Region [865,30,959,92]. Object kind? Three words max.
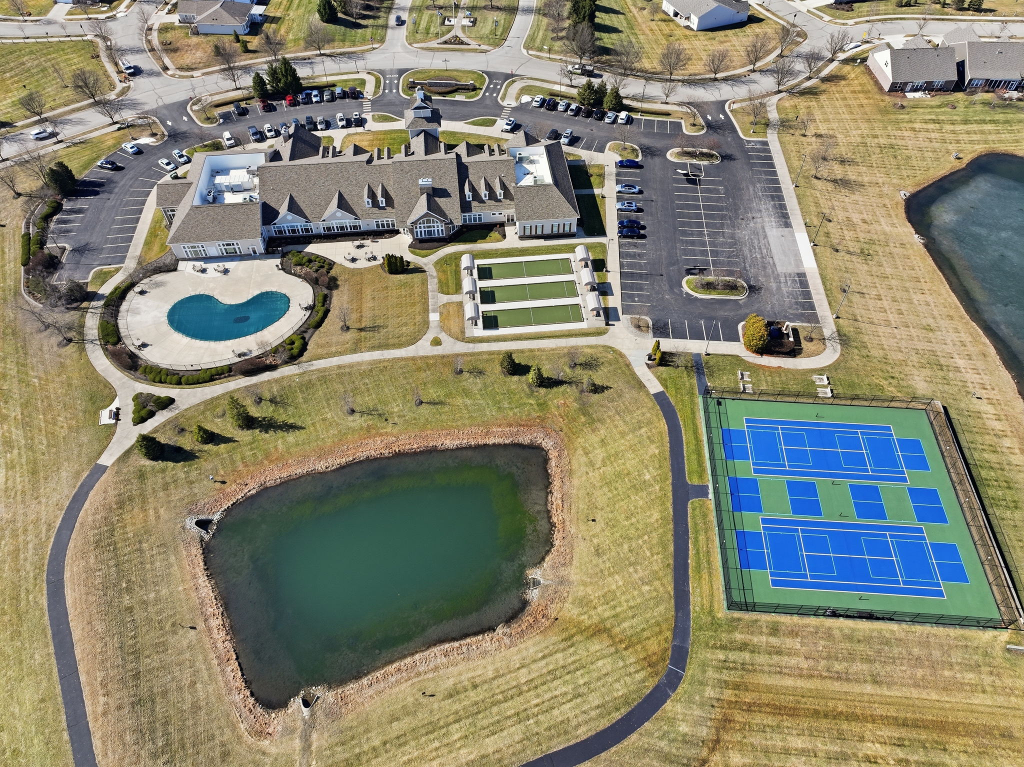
house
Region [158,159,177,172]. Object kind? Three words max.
vehicle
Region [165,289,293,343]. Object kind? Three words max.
swimming pool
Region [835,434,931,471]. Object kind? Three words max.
sports court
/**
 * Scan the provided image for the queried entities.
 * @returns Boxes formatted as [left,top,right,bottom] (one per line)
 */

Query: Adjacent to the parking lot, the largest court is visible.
[699,396,1005,628]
